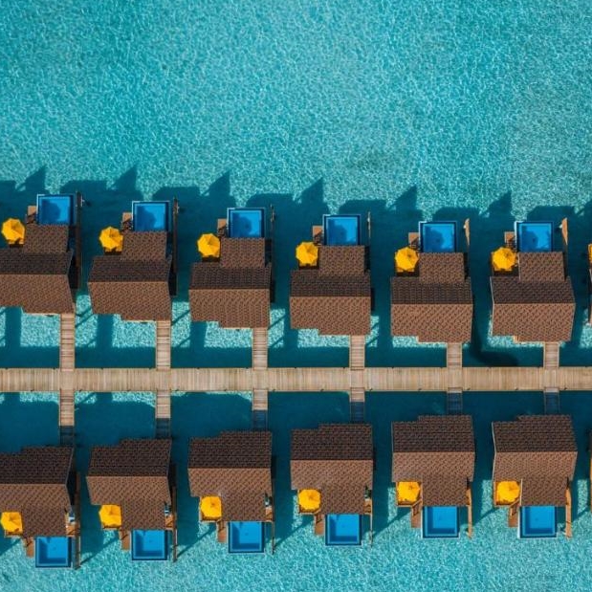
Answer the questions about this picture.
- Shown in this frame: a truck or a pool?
pool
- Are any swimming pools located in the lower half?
Yes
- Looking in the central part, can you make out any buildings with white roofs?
No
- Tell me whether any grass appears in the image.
No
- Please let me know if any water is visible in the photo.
Yes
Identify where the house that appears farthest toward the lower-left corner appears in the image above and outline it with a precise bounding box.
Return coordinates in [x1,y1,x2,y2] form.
[0,446,83,573]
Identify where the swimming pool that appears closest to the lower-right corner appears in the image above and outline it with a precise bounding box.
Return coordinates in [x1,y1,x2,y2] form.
[518,502,557,539]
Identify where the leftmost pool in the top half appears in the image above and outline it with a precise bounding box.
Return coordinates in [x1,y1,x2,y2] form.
[35,194,74,230]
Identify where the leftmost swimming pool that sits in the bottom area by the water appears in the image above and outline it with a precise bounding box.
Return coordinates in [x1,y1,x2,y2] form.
[31,533,72,569]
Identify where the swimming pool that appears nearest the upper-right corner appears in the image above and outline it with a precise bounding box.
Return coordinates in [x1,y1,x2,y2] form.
[514,222,554,256]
